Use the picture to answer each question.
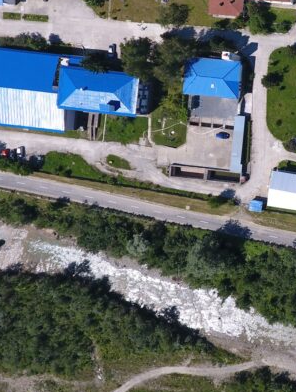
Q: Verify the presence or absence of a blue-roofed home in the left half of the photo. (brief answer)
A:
Yes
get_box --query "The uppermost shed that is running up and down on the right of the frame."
[230,116,247,173]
